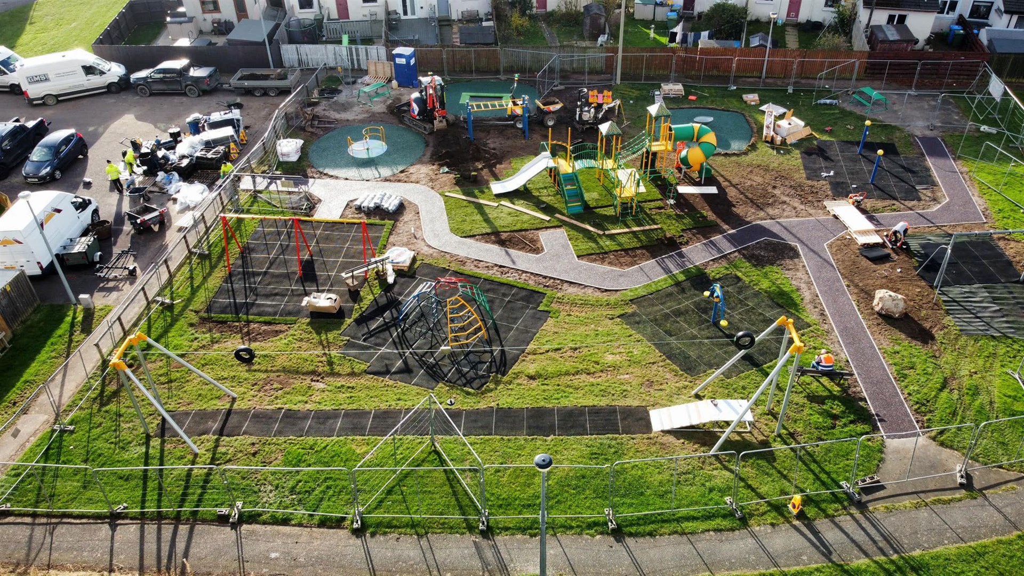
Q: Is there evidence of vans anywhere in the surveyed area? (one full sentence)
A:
Yes, there's a van here.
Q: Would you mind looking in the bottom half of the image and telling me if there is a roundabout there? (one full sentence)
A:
No, no roundabout is visible in the bottom half of the image.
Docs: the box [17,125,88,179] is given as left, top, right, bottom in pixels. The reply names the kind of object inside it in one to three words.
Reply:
car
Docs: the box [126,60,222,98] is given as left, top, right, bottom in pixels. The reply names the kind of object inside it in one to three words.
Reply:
truck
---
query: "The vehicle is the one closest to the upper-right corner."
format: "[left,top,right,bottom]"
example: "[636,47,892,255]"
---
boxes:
[571,88,622,131]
